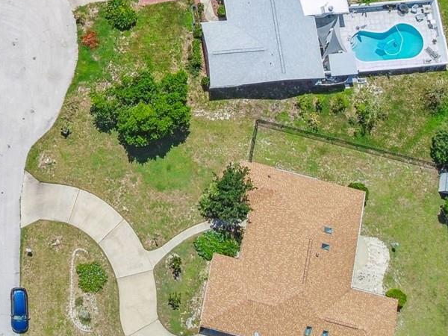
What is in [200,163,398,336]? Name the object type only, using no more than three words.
house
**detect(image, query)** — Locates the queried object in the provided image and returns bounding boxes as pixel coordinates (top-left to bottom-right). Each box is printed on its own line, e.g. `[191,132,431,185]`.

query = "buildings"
[202,0,324,89]
[200,163,398,336]
[428,174,448,192]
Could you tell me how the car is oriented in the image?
up and down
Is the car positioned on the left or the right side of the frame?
left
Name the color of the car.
blue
